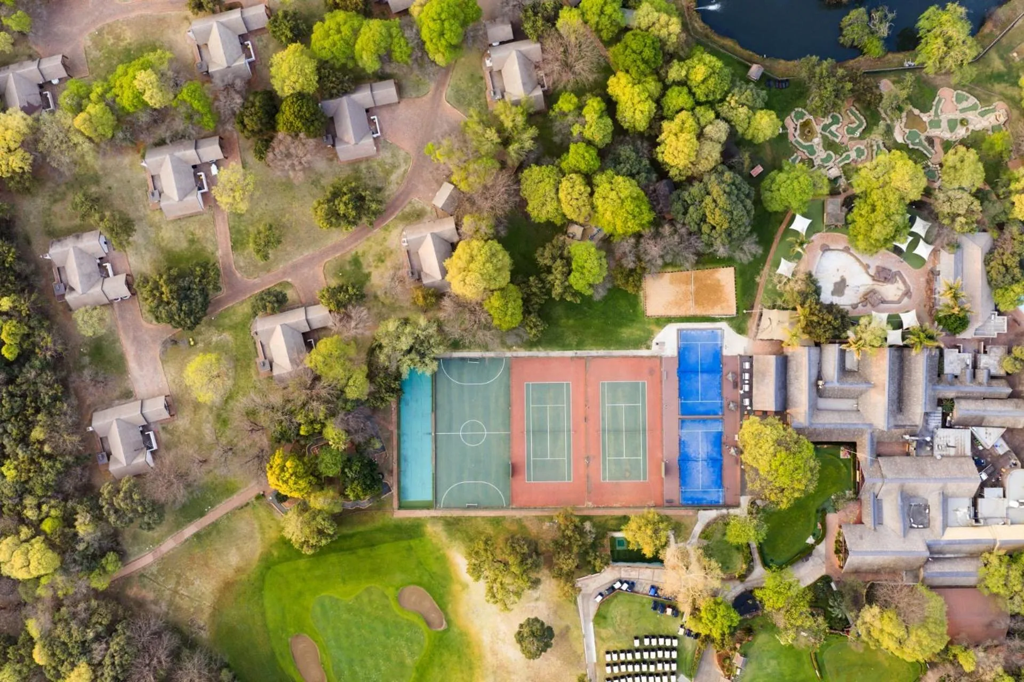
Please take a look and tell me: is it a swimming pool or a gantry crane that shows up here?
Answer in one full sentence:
I can see a swimming pool in this picture.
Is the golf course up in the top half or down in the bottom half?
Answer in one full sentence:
The golf course sits in the bottom half of the picture.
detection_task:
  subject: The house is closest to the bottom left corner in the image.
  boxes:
[87,394,180,483]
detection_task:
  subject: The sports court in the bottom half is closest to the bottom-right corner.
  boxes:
[680,419,729,509]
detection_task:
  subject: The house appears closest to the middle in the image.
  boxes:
[402,217,464,299]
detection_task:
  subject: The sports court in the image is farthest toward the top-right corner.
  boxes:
[644,266,738,318]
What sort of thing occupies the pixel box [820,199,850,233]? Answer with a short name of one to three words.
shed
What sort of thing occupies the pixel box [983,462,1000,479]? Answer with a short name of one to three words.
vehicle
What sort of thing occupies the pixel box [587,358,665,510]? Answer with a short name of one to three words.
tennis court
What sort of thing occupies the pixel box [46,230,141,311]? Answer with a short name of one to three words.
house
